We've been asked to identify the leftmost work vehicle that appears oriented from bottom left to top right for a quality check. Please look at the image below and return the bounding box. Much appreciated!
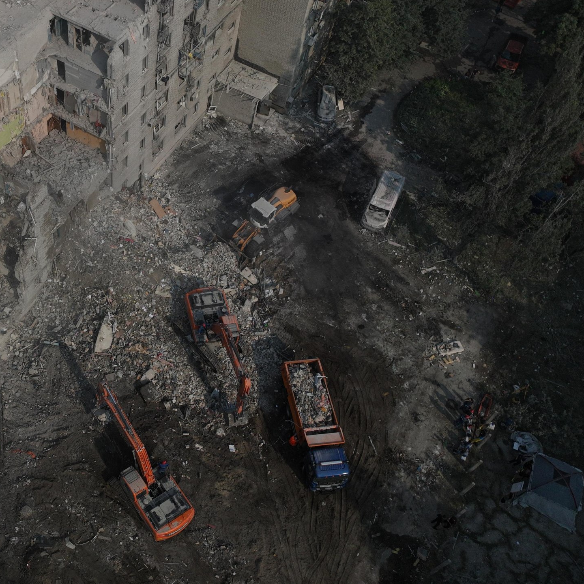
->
[215,190,301,265]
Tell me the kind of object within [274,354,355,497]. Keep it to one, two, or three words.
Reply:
truck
